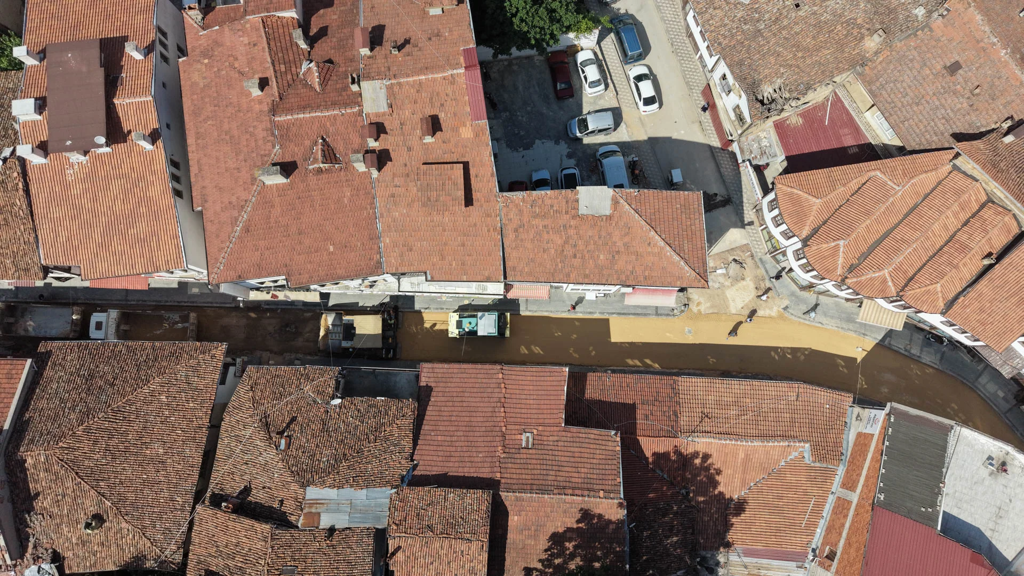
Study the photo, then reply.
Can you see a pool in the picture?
No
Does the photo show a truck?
Yes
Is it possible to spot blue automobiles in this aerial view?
Yes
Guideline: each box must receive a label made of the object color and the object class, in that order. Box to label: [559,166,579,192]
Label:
black car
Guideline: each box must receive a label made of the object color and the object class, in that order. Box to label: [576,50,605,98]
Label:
white car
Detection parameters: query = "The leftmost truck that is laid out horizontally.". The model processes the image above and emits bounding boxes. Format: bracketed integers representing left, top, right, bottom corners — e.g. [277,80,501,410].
[0,302,91,336]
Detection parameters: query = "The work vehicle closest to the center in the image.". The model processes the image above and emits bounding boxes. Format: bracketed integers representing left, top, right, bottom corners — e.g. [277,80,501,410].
[447,311,511,337]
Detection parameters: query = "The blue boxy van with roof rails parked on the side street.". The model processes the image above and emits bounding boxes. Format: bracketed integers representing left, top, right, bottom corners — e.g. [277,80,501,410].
[614,15,644,64]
